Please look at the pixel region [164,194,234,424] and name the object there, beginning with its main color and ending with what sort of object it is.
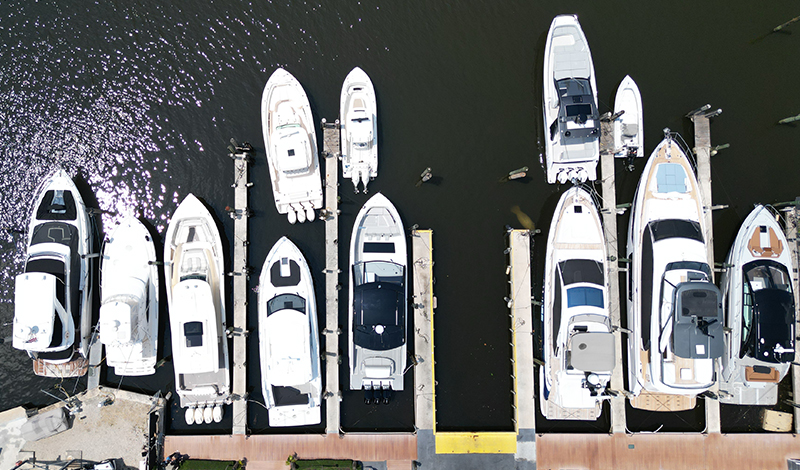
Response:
white boat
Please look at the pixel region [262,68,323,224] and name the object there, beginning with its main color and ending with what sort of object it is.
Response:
white boat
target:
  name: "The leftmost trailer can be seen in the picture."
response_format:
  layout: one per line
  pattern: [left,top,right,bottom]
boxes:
[11,450,101,470]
